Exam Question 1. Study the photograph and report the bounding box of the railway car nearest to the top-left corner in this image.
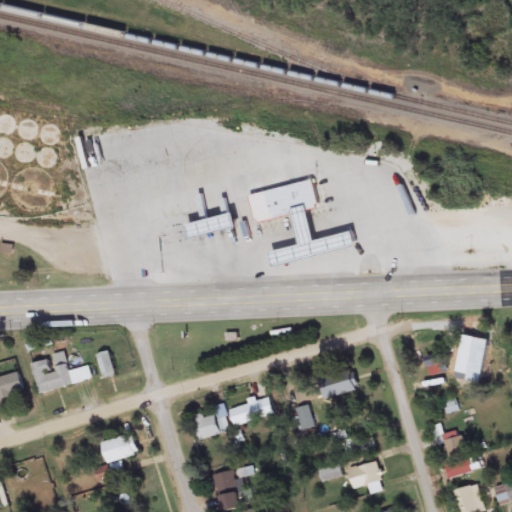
[1,3,42,17]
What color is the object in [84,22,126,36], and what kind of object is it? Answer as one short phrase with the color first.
white rail car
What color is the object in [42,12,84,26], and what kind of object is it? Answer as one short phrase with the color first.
white rail car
